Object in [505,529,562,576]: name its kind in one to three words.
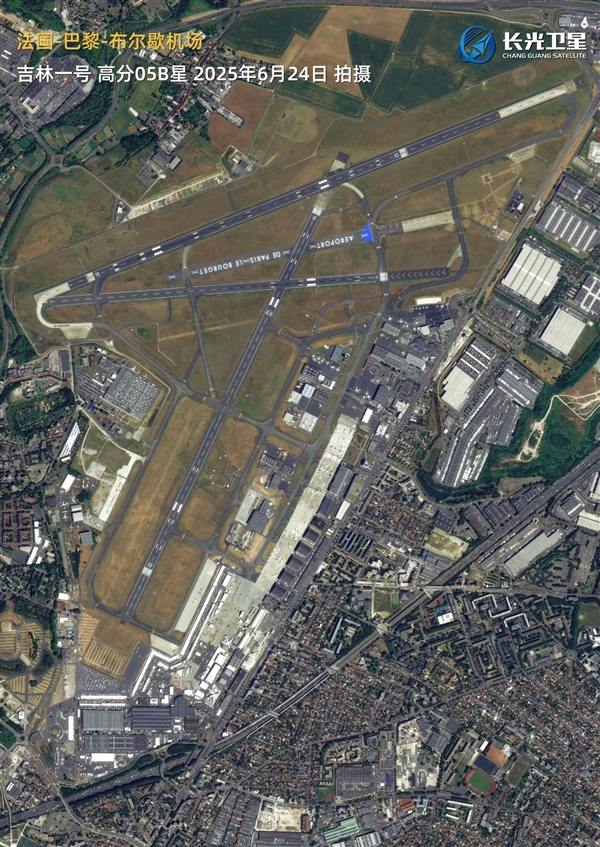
building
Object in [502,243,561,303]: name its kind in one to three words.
building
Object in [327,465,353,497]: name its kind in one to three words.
hangar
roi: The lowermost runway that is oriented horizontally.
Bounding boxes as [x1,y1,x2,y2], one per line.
[46,266,449,307]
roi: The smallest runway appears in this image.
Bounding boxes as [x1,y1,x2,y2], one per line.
[166,223,375,283]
